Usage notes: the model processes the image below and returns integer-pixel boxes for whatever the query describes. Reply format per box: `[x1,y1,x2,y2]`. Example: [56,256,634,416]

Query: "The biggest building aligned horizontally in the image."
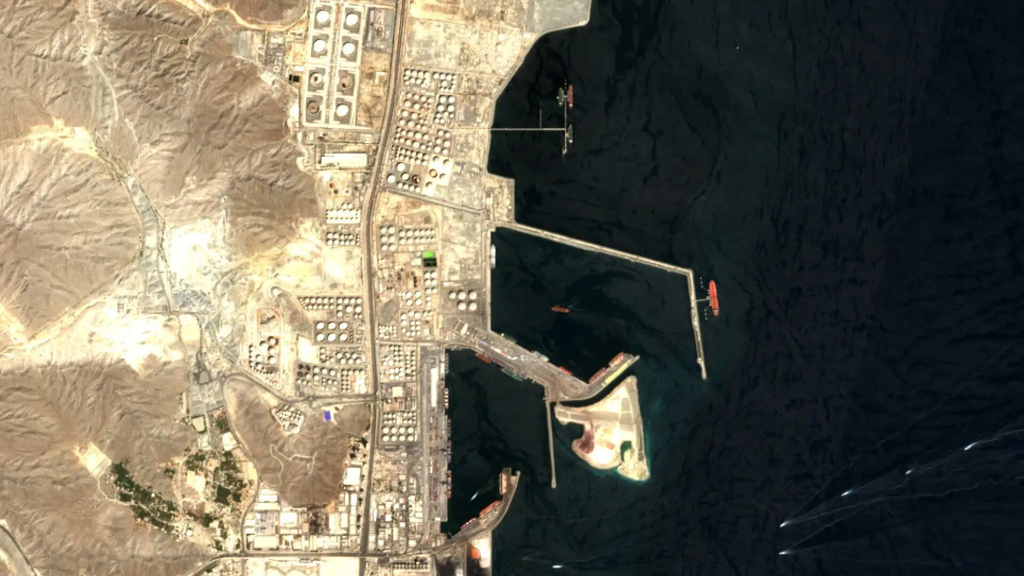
[338,154,366,167]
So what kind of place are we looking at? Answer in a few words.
port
